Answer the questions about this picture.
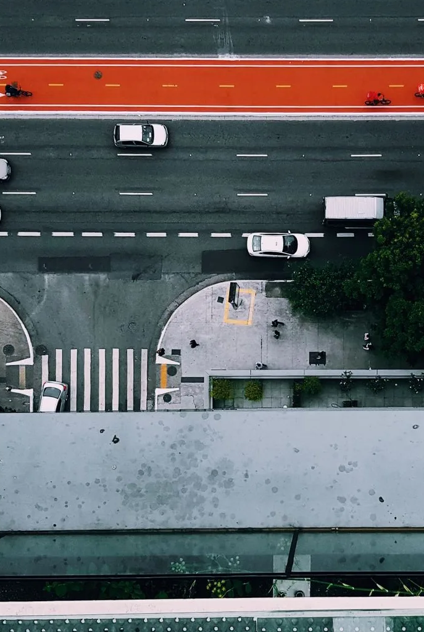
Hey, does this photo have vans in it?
Yes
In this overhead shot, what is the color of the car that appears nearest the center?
white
